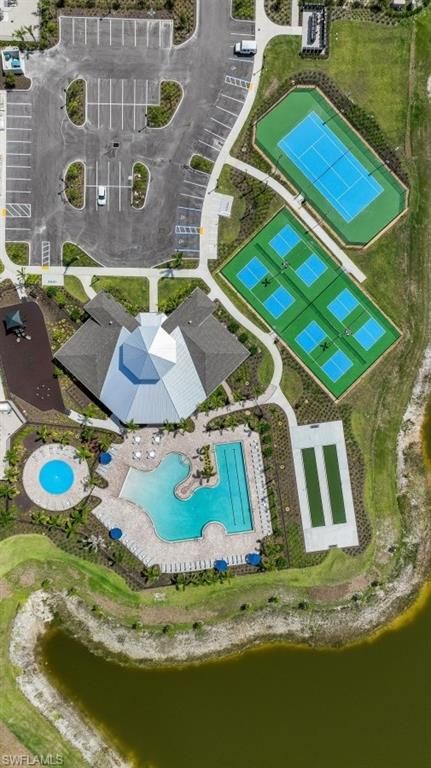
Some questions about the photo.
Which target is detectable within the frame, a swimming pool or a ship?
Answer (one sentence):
Looking from above, you can make out a swimming pool.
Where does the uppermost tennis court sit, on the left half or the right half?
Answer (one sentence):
The uppermost tennis court appears in the right half of the scene.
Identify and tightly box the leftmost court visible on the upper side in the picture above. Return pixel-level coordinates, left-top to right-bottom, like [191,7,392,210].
[236,256,296,319]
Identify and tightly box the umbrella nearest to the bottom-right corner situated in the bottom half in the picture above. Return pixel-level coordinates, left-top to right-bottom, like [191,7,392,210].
[246,552,260,566]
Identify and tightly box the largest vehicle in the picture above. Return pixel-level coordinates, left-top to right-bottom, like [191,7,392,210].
[234,42,258,56]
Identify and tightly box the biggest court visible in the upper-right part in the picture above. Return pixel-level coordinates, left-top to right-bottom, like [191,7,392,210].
[253,86,409,248]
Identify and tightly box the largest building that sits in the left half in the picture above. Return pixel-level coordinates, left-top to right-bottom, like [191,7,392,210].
[54,287,250,424]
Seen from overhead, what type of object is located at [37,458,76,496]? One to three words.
swimming pool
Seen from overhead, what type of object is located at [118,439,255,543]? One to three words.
swimming pool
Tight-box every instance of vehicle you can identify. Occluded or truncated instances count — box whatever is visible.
[234,42,258,56]
[97,187,107,208]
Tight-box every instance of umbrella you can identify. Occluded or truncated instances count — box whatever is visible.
[100,452,112,464]
[246,552,260,566]
[109,526,122,539]
[214,558,228,572]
